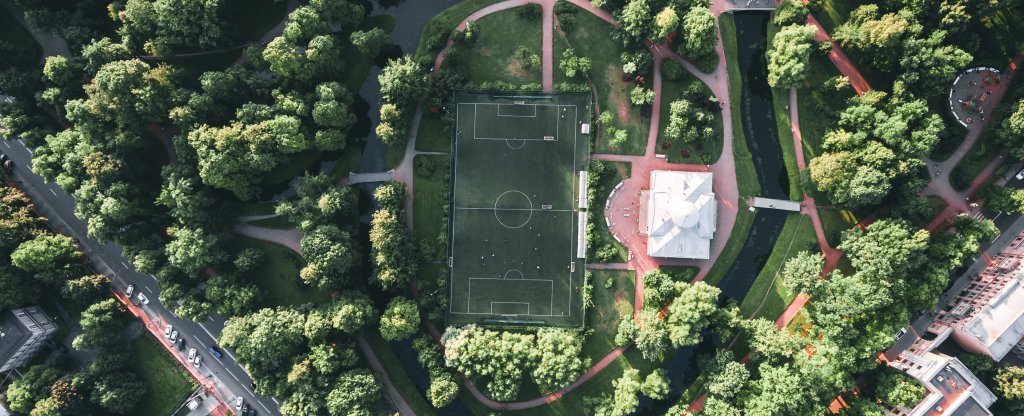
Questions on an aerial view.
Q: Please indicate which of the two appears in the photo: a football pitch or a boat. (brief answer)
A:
football pitch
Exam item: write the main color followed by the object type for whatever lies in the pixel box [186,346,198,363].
white vehicle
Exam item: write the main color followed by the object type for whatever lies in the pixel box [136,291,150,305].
white car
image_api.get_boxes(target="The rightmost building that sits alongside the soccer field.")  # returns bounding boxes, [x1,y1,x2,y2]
[632,168,717,261]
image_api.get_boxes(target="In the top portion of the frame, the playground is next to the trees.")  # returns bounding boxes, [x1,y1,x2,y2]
[950,69,1004,124]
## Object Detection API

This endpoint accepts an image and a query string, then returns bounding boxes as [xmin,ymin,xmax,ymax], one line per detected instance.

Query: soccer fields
[446,91,592,327]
